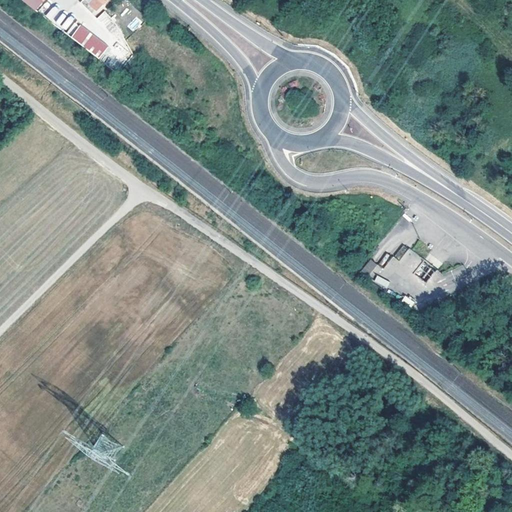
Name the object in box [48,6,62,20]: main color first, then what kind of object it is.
white vehicle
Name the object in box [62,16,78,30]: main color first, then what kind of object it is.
white vehicle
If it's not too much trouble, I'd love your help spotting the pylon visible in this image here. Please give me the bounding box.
[63,430,131,476]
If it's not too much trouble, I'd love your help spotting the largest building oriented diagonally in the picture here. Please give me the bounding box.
[72,28,110,60]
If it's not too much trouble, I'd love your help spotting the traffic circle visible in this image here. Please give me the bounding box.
[251,52,351,152]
